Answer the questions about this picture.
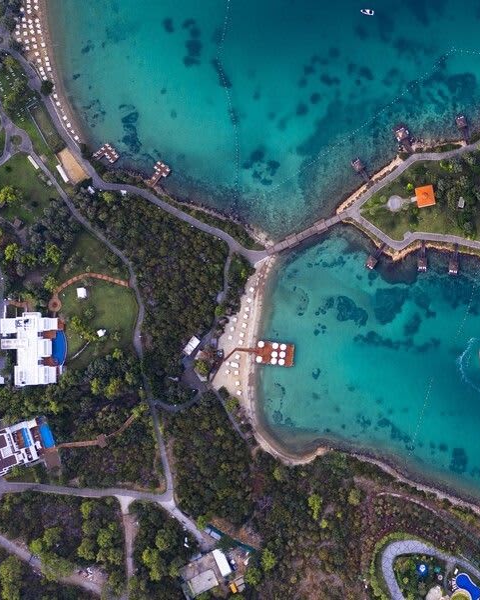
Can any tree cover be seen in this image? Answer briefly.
Yes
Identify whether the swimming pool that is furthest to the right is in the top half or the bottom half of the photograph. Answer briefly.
bottom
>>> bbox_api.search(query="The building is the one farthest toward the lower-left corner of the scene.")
[0,415,60,471]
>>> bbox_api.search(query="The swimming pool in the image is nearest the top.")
[52,329,66,364]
